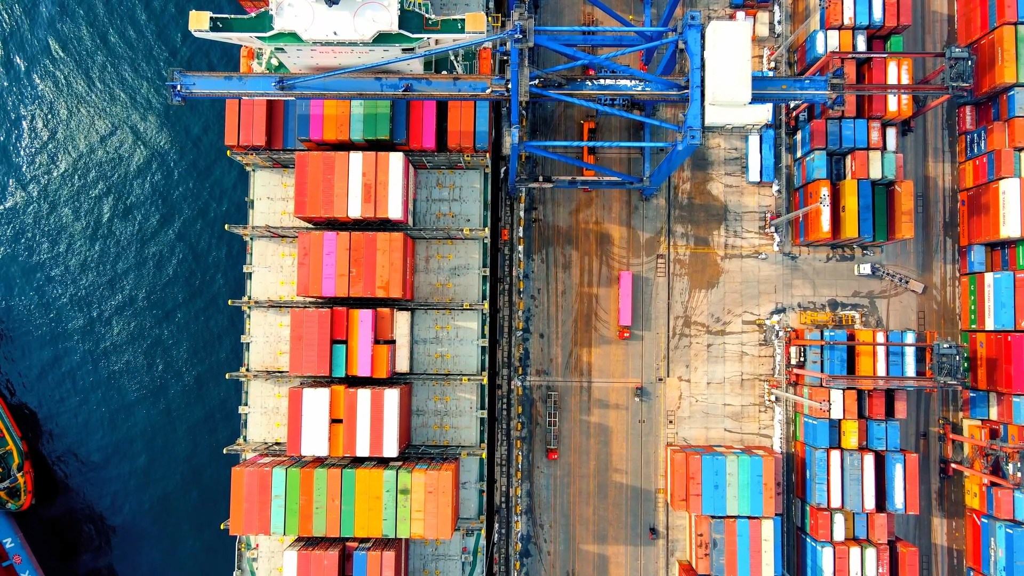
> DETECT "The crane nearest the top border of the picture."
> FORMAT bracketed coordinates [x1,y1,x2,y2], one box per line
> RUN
[531,0,679,60]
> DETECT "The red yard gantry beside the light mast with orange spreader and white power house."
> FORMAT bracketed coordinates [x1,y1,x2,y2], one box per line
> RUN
[791,328,970,395]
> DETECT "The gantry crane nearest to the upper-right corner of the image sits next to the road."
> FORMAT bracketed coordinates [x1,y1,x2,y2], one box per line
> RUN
[789,46,978,128]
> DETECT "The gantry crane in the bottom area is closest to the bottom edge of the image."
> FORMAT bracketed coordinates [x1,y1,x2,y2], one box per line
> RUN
[948,424,1024,501]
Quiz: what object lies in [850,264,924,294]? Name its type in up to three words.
truck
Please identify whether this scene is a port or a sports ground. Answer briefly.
port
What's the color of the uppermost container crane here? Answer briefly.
blue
